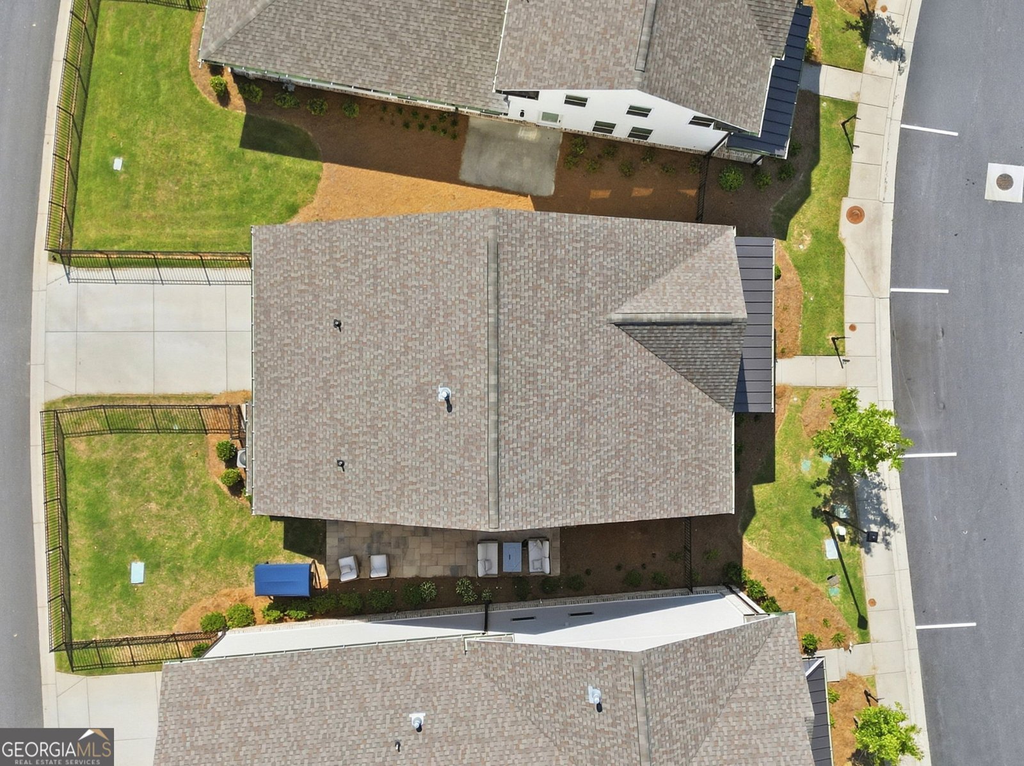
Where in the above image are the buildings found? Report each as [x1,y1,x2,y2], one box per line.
[197,0,814,170]
[244,208,776,530]
[154,576,835,766]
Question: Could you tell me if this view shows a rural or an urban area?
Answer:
urban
